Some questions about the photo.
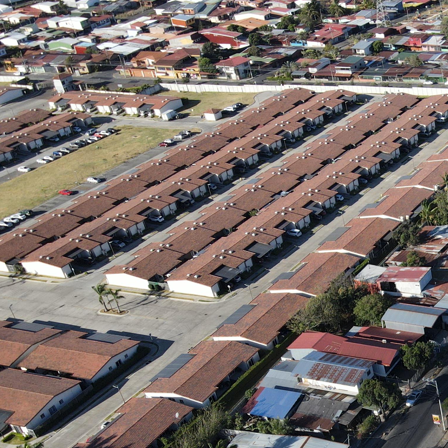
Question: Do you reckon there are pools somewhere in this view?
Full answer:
No, no pool can be seen from above.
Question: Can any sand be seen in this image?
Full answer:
No, the picture contains no sand.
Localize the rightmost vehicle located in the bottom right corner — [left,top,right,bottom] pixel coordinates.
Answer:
[405,388,423,403]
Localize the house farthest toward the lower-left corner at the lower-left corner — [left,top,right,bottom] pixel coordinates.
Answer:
[0,367,82,435]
